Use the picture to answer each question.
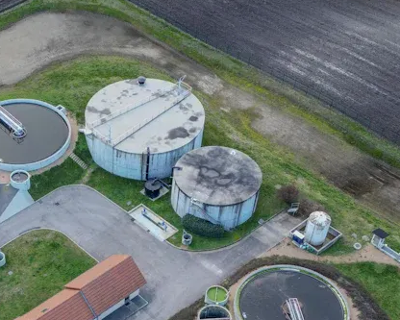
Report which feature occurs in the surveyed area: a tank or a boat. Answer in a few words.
tank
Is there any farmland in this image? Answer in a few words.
Yes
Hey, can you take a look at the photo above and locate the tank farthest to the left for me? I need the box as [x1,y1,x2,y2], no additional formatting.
[0,99,71,171]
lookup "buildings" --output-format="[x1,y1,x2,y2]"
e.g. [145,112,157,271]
[372,230,390,250]
[12,255,150,320]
